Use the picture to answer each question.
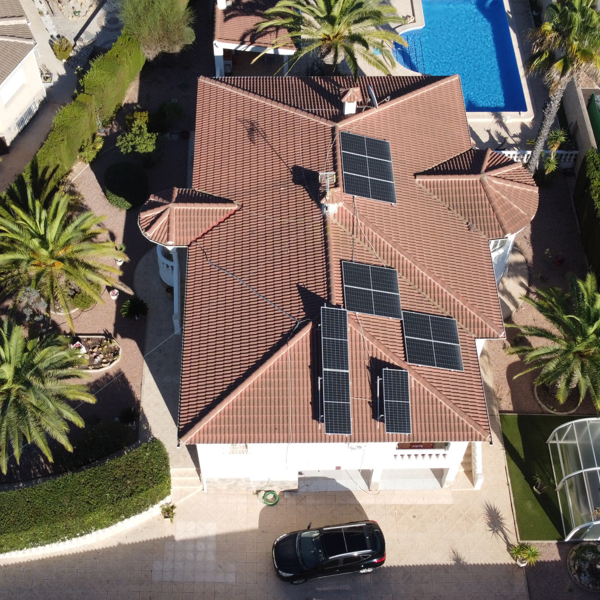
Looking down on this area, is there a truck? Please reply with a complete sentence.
No, I can't see a single truck in this photo.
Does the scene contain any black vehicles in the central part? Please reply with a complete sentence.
No, no black vehicle can be made out in the central part.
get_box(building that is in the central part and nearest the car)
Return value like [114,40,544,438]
[136,71,541,508]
